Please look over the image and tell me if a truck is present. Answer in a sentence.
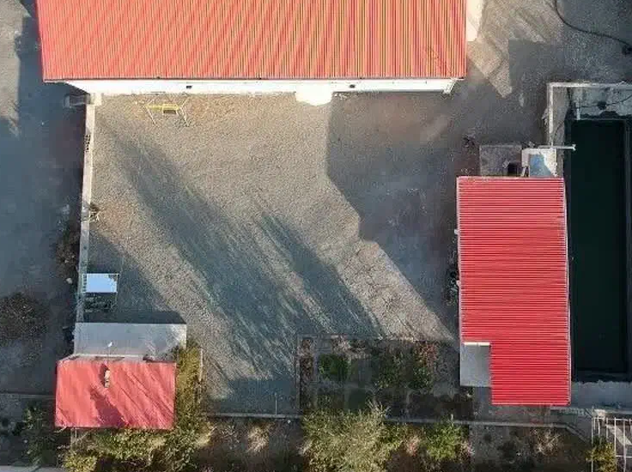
No, there's no truck here.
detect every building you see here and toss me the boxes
[34,0,469,93]
[454,176,571,405]
[55,318,196,429]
